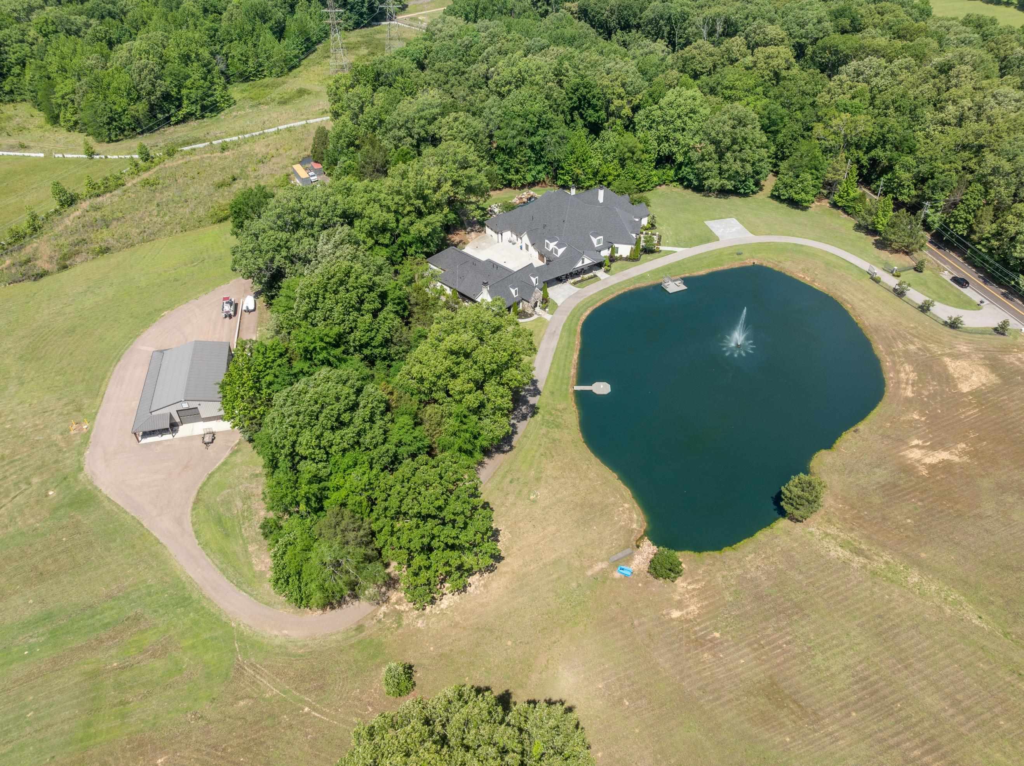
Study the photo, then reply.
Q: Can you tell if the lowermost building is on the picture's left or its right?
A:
left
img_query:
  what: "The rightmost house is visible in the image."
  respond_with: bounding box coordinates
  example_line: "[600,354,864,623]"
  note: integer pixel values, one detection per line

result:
[428,185,649,314]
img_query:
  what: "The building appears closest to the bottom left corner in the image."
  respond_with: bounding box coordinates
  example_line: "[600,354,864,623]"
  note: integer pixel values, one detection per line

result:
[131,337,233,443]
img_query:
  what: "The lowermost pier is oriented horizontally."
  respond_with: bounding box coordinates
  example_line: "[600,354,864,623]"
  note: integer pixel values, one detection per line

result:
[573,382,611,396]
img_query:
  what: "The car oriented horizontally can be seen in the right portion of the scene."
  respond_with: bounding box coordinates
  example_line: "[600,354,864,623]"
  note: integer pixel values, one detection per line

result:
[949,276,972,288]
